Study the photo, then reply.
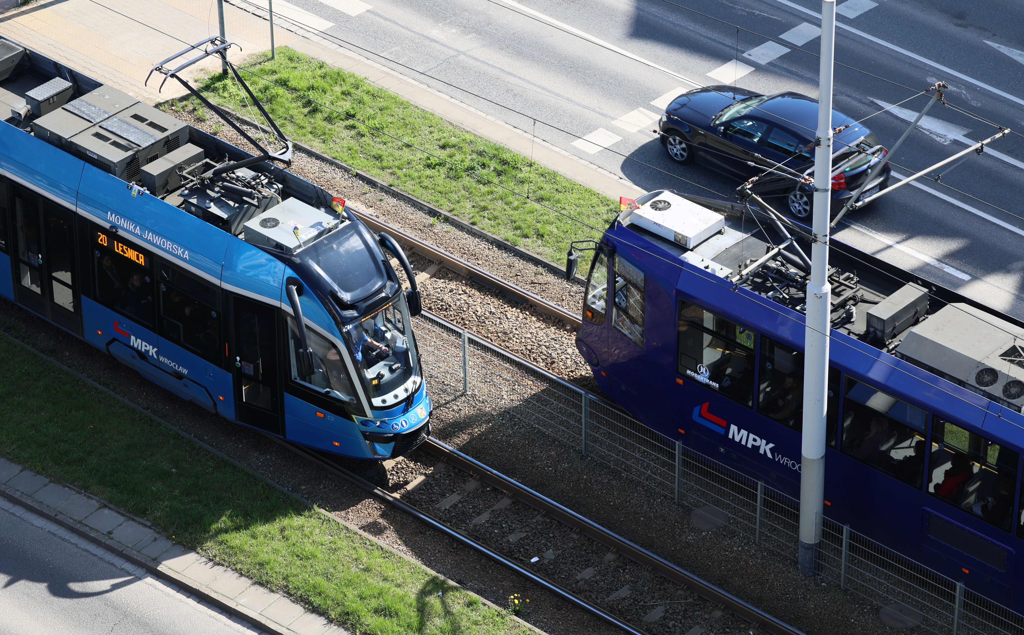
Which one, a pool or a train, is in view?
train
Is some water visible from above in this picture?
No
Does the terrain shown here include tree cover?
No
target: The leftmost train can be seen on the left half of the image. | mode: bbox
[0,34,433,459]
